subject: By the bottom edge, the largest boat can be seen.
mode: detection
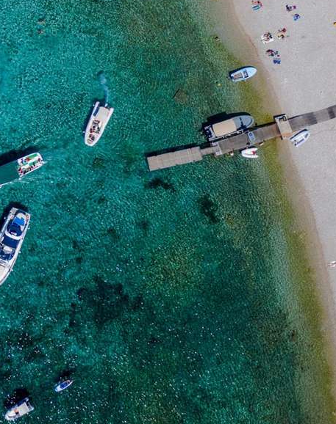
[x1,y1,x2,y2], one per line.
[6,399,34,422]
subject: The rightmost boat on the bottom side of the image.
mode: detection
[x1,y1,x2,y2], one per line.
[55,379,73,392]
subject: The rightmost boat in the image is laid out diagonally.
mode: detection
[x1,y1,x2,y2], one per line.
[289,131,309,148]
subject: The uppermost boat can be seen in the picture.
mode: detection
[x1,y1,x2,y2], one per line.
[226,67,257,82]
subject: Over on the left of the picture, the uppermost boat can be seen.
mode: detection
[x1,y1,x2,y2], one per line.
[83,101,113,146]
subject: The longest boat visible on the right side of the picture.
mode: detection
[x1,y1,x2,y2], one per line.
[203,114,254,141]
